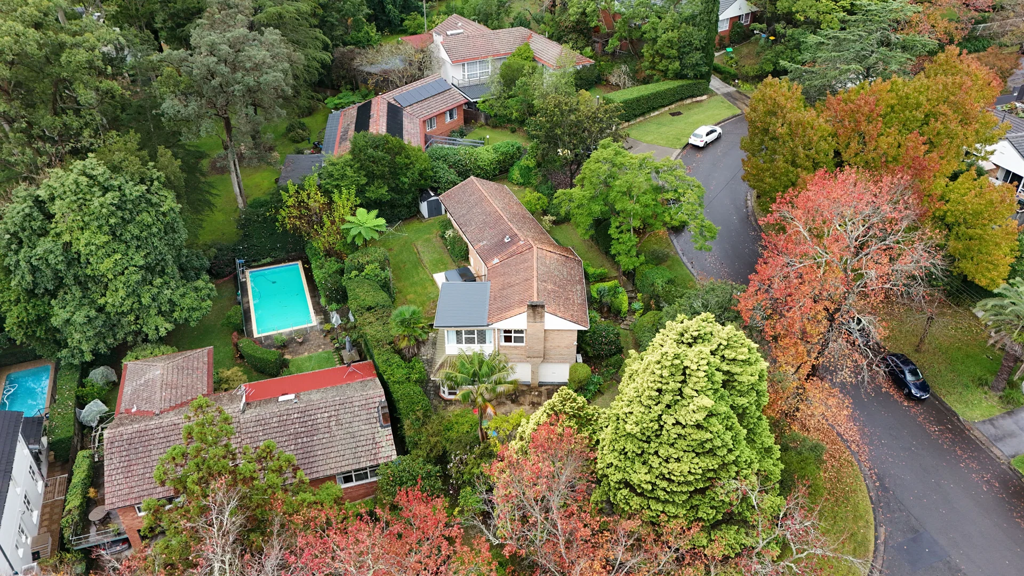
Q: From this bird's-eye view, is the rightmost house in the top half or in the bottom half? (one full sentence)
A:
It is in the top half that the rightmost house appears.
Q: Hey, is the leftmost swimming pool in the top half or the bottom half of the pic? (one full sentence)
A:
The bottom half of the photo is where the leftmost swimming pool is.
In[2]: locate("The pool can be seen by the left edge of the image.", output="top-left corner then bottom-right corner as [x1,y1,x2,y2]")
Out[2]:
[0,354,64,428]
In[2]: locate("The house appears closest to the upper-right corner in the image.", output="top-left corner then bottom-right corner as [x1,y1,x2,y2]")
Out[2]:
[975,99,1024,199]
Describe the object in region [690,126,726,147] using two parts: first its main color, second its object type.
white car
